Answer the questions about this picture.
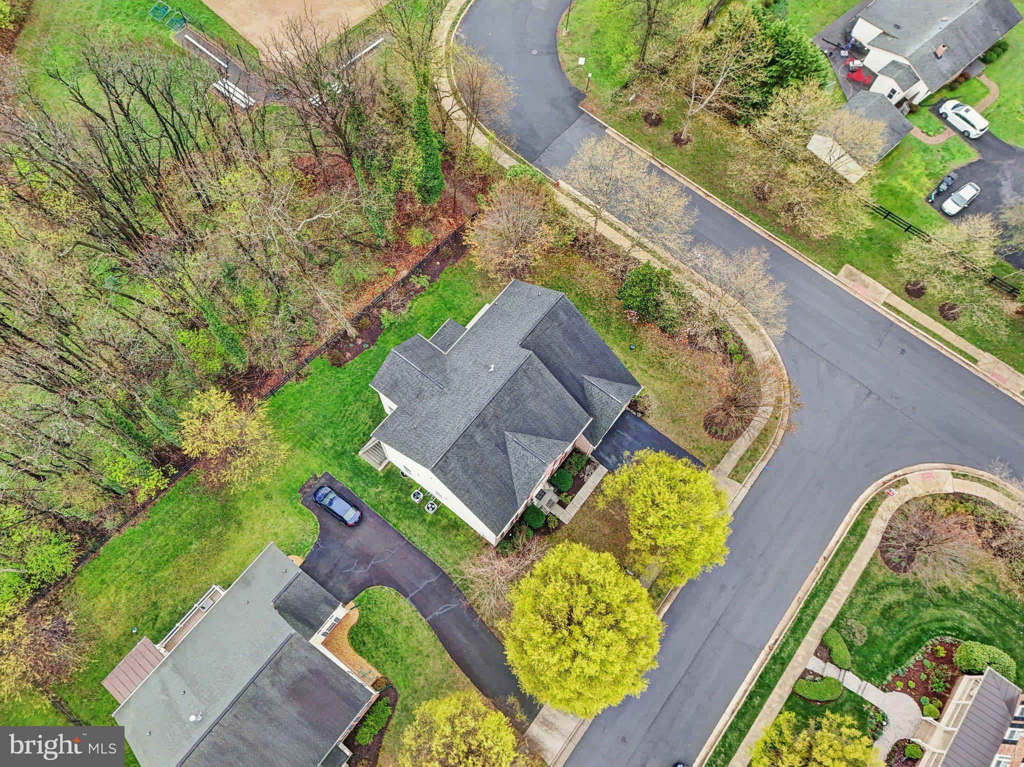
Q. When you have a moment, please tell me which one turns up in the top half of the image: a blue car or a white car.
white car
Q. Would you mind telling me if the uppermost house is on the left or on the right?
right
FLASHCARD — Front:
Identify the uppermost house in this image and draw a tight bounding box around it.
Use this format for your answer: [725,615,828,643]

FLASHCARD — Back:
[852,0,1023,114]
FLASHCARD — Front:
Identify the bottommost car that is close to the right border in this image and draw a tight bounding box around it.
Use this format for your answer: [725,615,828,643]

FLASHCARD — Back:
[938,181,981,218]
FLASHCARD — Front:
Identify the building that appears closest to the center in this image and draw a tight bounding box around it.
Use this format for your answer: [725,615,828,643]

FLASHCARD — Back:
[358,279,645,545]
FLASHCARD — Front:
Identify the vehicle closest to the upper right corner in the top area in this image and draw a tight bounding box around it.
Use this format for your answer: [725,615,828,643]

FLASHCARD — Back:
[937,103,988,140]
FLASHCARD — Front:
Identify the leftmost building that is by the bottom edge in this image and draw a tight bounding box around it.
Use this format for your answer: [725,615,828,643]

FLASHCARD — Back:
[107,542,378,767]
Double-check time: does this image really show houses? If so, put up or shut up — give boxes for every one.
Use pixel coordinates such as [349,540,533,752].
[852,0,1023,114]
[358,279,645,545]
[908,663,1024,767]
[107,542,378,767]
